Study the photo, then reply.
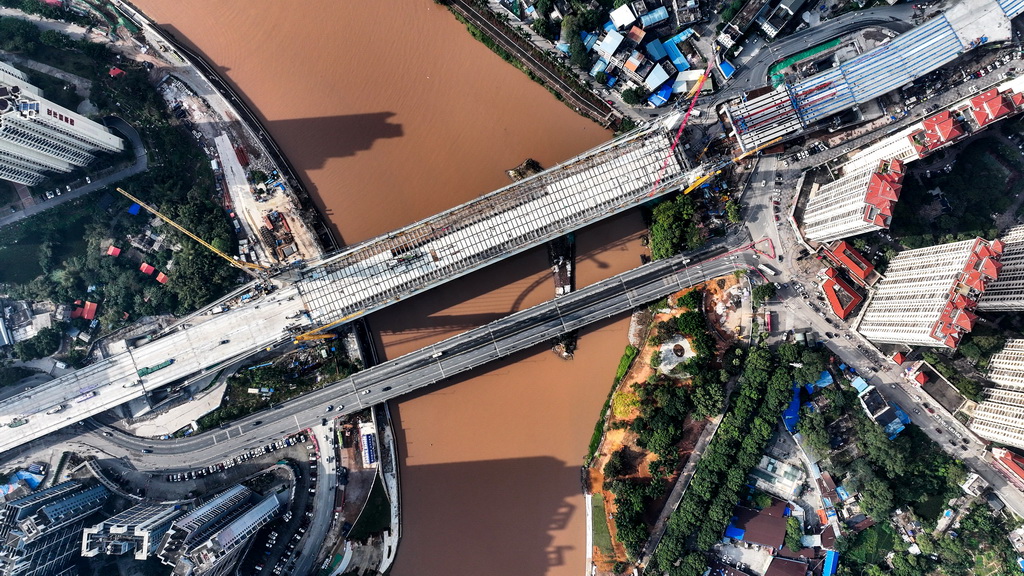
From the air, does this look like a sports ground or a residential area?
residential area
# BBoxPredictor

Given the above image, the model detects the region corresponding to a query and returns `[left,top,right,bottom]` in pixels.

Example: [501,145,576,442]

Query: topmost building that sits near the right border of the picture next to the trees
[842,72,1024,172]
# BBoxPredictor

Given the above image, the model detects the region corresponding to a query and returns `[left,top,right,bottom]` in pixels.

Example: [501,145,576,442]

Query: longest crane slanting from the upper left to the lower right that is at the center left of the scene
[117,187,266,281]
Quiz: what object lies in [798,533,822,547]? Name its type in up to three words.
shed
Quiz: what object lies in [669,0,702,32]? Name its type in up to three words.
house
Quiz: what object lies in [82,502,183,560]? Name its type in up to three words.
building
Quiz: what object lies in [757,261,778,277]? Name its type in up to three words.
vehicle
